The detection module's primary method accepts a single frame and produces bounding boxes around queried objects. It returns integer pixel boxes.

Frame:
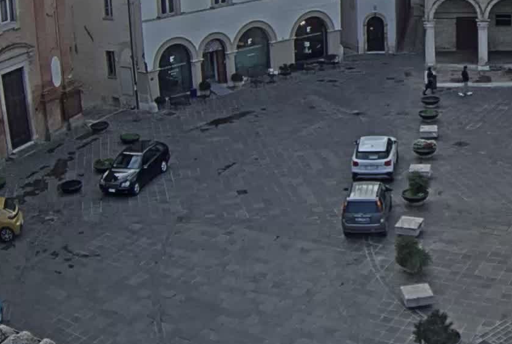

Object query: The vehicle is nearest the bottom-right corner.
[350,174,399,229]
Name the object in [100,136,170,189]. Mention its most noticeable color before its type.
black car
